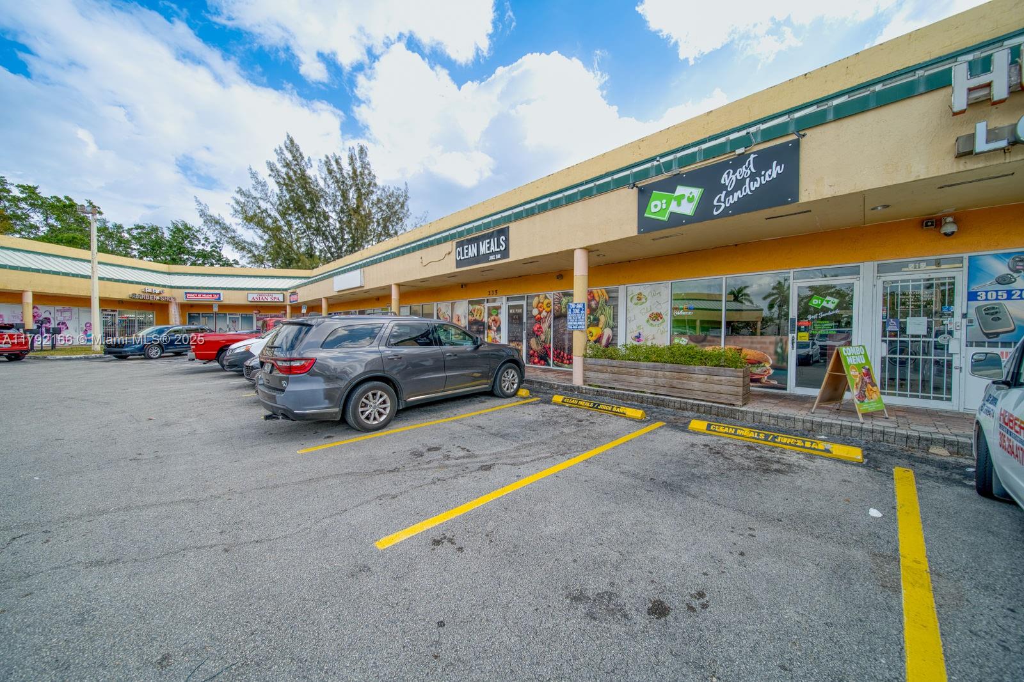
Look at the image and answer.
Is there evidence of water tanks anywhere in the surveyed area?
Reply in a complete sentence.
No, no water tank is visible in the scene.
